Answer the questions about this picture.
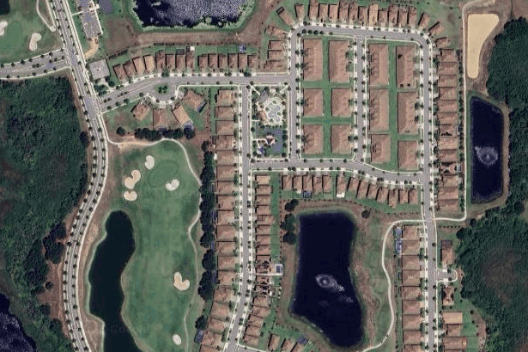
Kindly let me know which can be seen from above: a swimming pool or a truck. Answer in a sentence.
Of the two, only a swimming pool appears.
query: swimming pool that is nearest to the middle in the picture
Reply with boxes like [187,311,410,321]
[257,96,285,125]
